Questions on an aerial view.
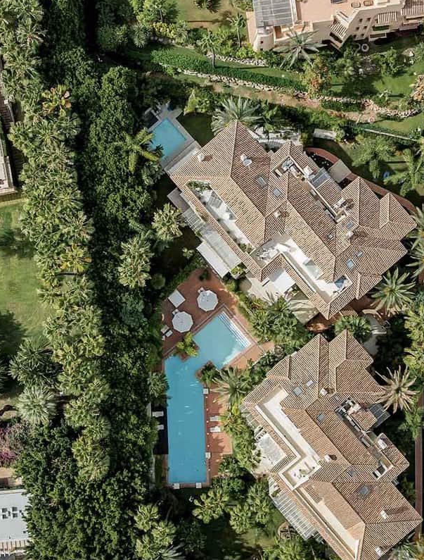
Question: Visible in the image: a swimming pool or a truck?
swimming pool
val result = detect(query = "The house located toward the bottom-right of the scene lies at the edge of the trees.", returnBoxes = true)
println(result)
[238,330,423,560]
